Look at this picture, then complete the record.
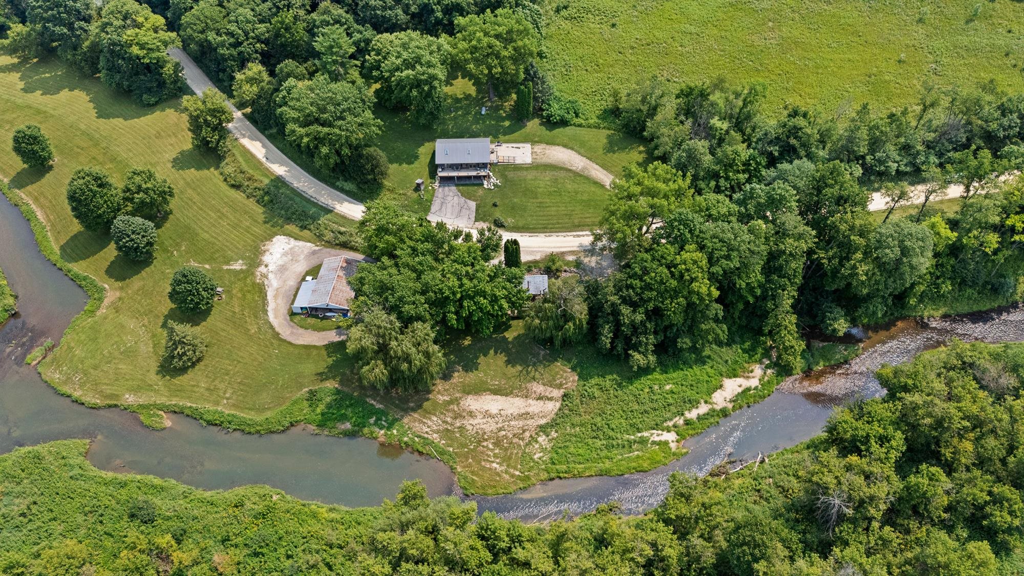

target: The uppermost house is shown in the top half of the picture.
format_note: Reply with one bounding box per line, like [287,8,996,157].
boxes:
[435,139,490,184]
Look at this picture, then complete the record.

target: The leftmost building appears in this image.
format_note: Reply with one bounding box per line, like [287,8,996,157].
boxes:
[291,255,363,319]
